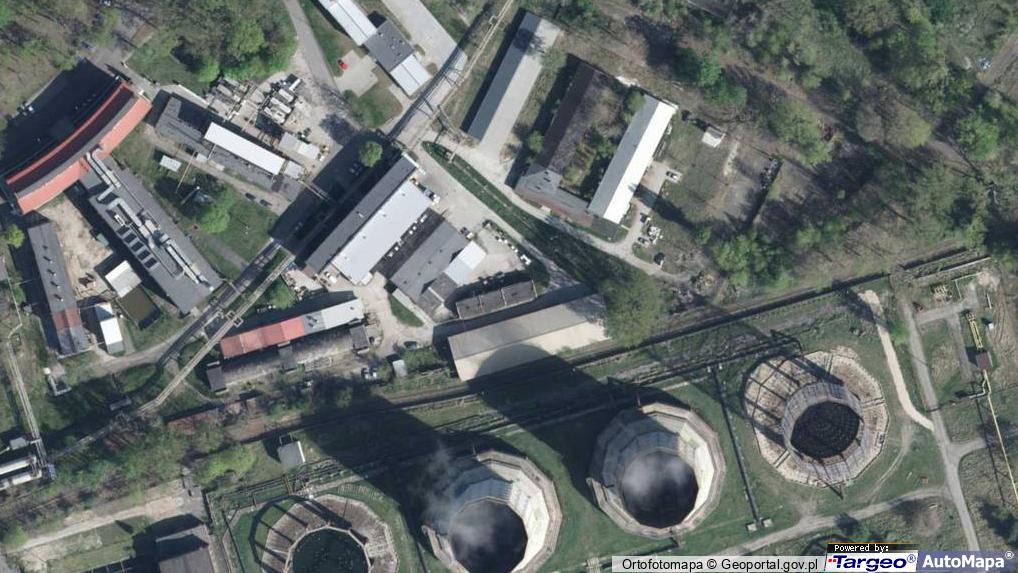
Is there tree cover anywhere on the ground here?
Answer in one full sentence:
Yes, there's tree cover in this view.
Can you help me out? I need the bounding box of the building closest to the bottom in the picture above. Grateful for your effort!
[156,522,218,573]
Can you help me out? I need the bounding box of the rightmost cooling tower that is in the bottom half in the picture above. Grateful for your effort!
[744,339,891,493]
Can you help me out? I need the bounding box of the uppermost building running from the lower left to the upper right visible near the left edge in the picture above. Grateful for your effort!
[8,75,154,215]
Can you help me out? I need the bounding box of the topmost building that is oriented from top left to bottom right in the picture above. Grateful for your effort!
[331,0,432,96]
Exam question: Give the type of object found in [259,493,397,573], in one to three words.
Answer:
cooling tower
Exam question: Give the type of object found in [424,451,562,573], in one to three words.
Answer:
cooling tower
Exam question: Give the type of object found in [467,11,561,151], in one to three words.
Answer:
building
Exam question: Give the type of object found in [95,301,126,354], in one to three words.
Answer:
shed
